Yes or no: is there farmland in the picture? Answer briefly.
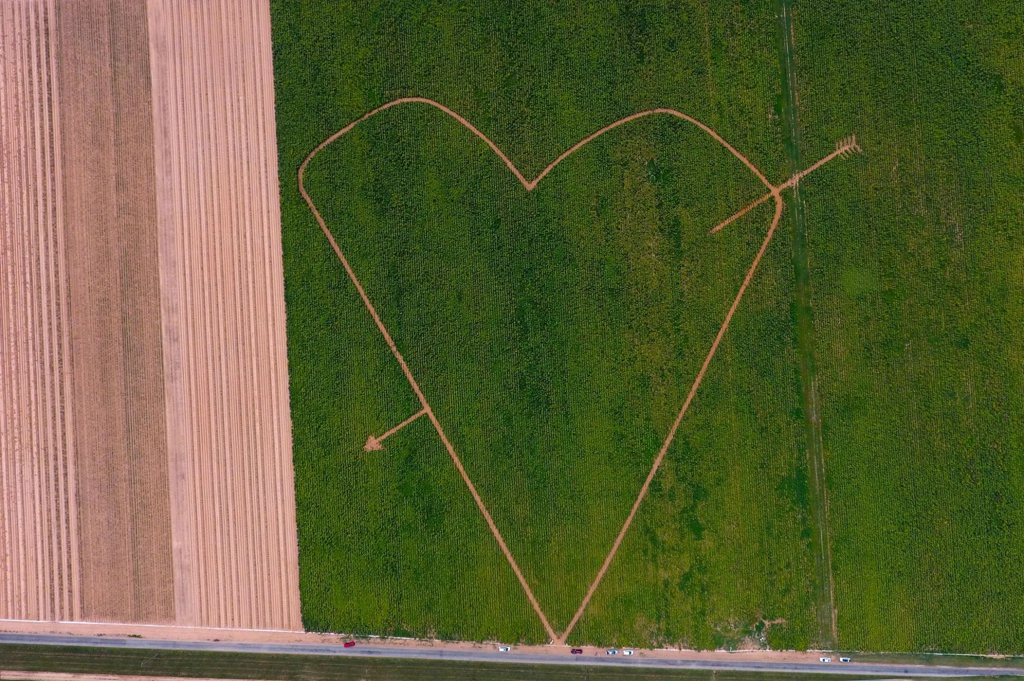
Yes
